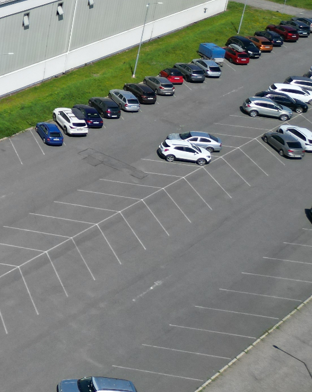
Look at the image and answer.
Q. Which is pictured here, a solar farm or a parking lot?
parking lot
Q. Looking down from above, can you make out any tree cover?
No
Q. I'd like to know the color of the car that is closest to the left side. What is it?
blue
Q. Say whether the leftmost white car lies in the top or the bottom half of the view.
top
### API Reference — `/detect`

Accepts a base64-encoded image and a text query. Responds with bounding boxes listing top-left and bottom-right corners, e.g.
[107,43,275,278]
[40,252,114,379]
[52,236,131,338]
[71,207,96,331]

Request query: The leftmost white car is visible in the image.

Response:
[56,105,87,133]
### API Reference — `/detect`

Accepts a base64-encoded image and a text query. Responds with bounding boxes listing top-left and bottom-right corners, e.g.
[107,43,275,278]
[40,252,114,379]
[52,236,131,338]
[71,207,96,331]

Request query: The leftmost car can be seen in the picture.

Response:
[31,117,60,142]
